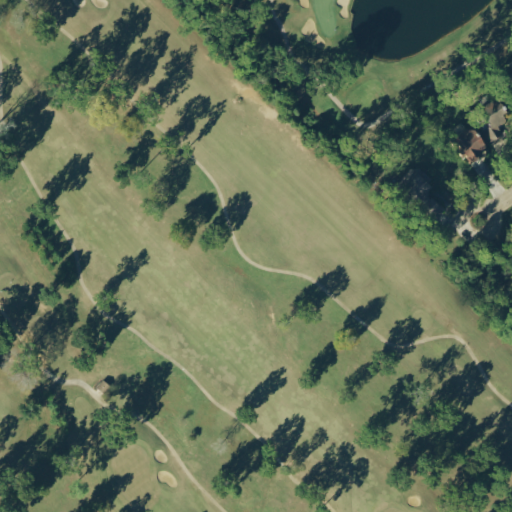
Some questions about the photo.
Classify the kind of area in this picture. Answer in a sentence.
The area seen from above is a golf course.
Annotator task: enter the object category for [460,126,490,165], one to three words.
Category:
house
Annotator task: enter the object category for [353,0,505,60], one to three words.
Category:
pond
